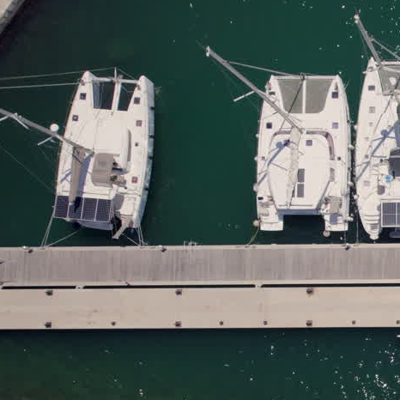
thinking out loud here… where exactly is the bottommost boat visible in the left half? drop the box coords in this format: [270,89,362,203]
[76,216,119,234]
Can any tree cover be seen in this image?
No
